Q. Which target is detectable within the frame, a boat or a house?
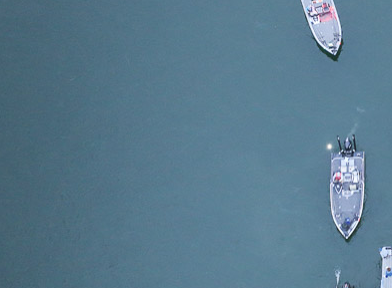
boat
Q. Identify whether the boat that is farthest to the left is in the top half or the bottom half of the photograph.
top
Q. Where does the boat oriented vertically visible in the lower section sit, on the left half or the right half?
right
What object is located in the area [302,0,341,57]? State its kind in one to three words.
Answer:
boat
